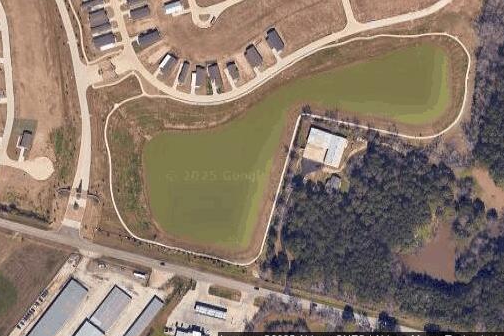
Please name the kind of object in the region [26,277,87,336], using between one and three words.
building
